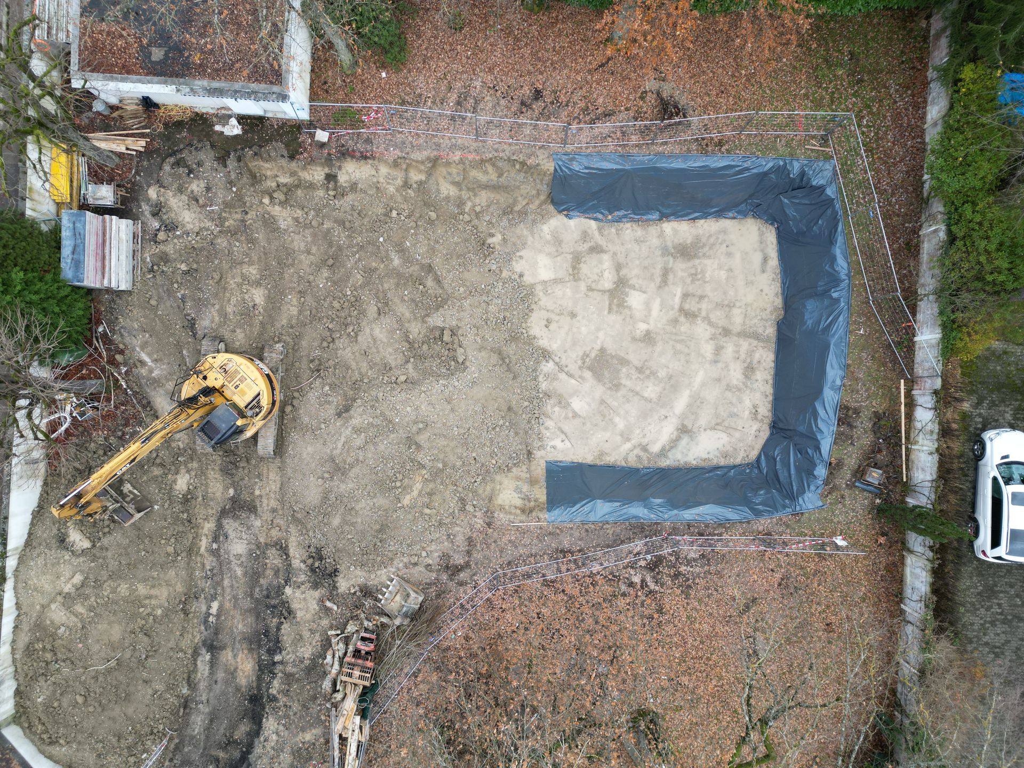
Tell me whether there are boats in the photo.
No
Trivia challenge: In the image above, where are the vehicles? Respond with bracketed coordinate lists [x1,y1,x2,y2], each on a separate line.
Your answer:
[55,339,288,527]
[973,429,1024,564]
